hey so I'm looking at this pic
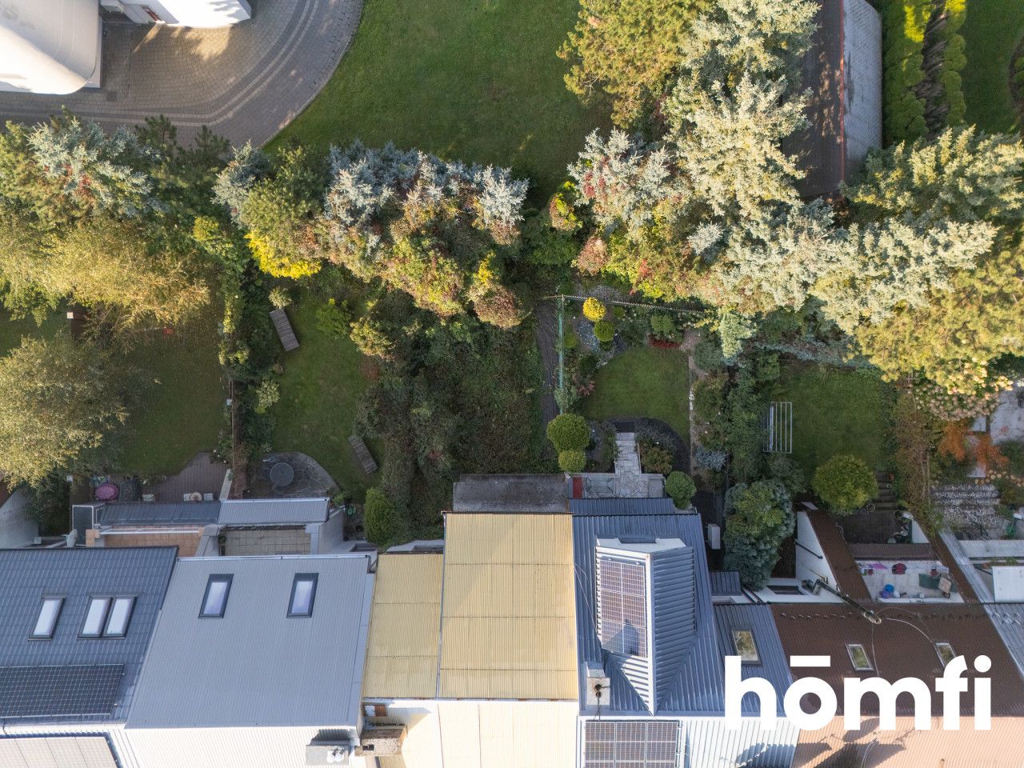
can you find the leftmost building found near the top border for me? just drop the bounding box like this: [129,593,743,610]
[0,0,102,94]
